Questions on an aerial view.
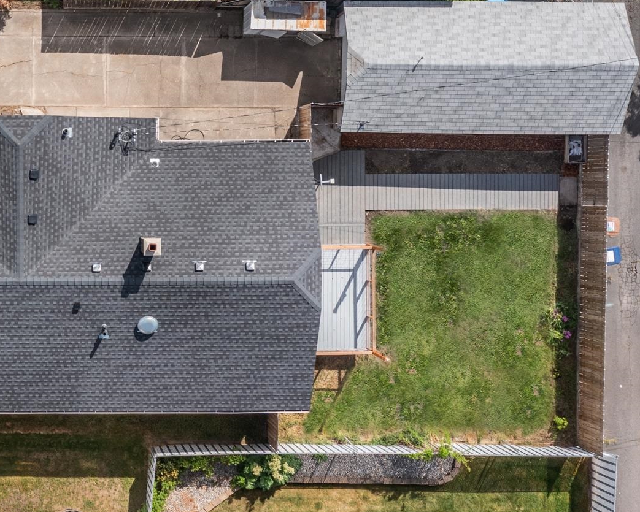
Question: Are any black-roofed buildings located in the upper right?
No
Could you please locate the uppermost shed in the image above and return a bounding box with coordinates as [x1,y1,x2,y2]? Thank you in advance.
[242,0,327,50]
